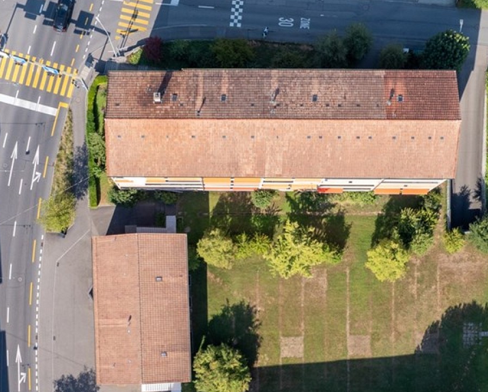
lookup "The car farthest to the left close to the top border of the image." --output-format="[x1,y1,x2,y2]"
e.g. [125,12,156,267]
[54,0,73,33]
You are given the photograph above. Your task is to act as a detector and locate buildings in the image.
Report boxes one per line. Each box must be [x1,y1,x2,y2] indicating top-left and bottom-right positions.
[105,70,461,197]
[89,216,191,392]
